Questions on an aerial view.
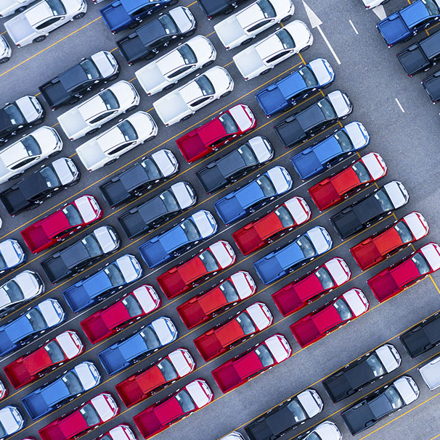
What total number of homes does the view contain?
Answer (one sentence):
I count no homes.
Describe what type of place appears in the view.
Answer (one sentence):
The area seen from above is a parking lot.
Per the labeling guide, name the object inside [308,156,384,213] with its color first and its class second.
red truck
